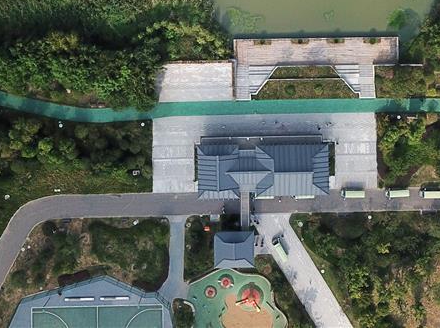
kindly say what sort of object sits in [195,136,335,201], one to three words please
building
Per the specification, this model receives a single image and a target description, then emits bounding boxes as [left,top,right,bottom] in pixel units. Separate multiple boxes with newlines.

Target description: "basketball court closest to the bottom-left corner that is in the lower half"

[32,308,162,328]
